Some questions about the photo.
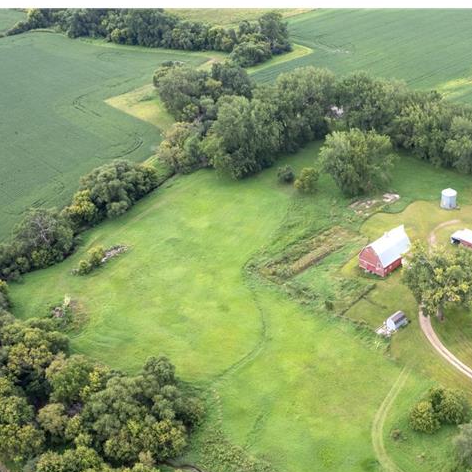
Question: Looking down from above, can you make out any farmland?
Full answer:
Yes, farmland can be seen from above here.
